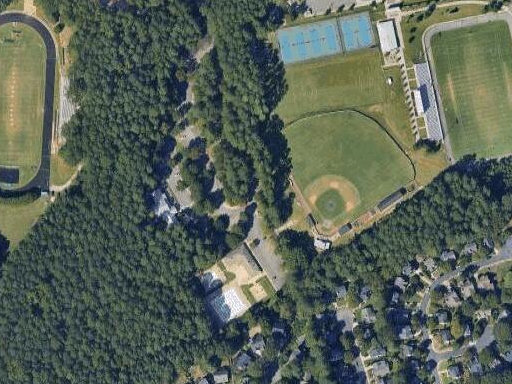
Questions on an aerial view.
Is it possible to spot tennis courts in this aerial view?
Yes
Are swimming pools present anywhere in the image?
Yes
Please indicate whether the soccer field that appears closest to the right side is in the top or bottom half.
top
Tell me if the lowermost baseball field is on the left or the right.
right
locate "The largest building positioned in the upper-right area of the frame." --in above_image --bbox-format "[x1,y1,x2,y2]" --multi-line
[377,20,399,53]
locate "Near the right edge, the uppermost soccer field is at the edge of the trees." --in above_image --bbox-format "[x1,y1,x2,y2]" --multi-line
[423,10,512,167]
